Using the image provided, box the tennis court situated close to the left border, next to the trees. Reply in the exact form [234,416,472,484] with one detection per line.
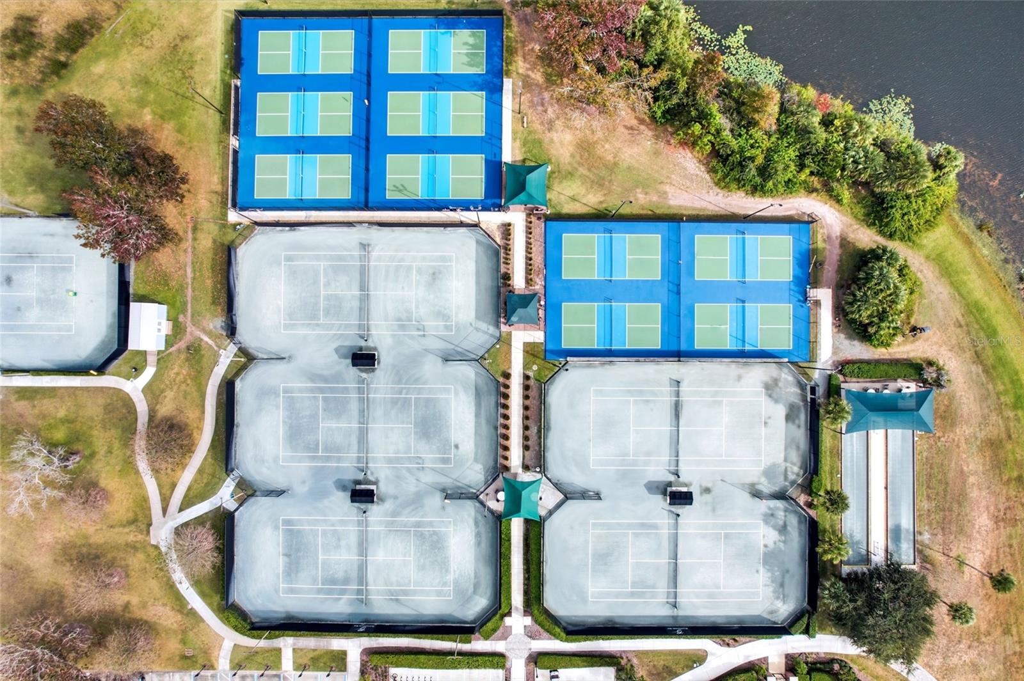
[0,218,129,370]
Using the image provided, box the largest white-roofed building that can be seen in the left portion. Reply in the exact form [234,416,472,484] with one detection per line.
[128,302,176,350]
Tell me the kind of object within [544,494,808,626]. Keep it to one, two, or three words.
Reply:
tennis court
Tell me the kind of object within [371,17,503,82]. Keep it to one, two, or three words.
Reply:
sports court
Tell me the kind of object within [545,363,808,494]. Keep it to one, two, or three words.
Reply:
tennis court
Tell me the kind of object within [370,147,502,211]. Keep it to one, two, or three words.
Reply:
sports court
